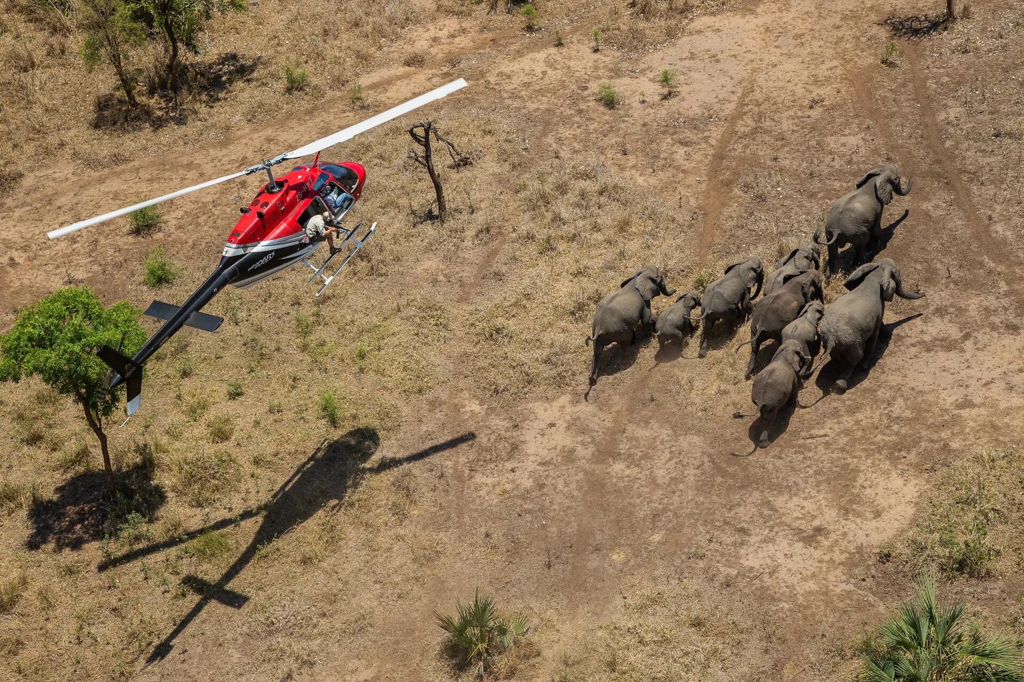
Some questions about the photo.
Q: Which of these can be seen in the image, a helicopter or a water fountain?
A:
helicopter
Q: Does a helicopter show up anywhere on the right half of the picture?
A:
No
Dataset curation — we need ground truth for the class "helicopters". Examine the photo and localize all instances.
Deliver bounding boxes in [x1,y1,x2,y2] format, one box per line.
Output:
[47,83,470,435]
